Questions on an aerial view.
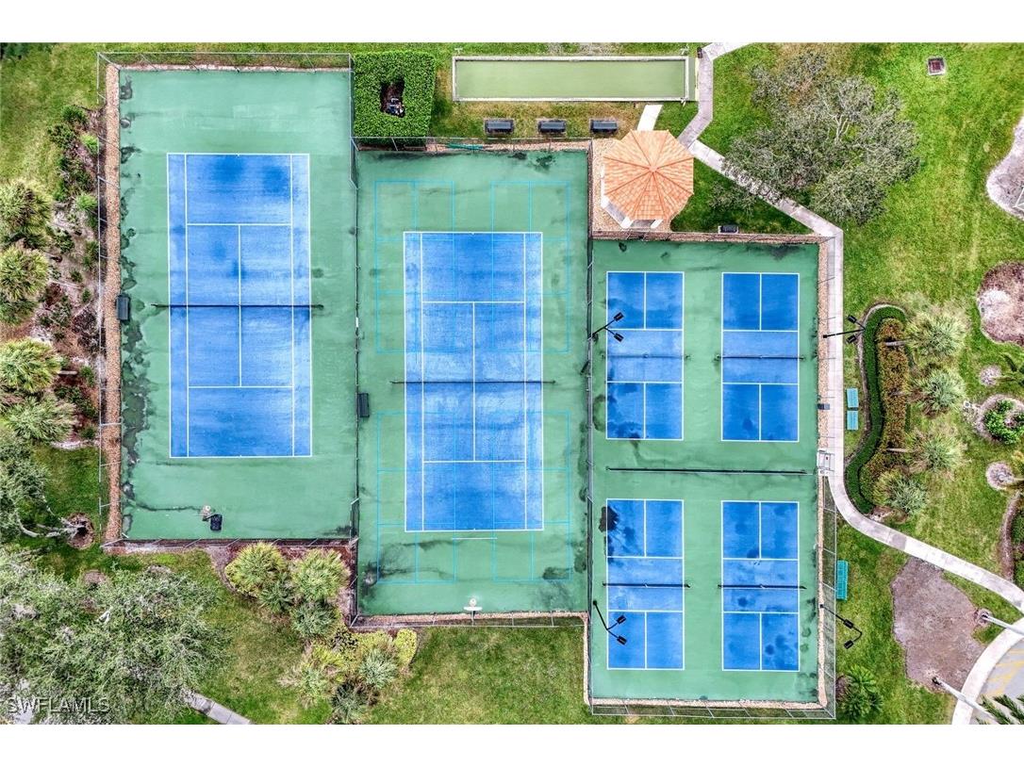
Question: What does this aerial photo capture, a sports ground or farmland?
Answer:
sports ground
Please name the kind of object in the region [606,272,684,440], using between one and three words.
sports court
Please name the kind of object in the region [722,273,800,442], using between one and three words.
sports court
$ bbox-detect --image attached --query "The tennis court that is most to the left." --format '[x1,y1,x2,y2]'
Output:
[119,70,359,540]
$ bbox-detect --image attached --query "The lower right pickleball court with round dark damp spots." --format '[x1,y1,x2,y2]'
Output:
[722,501,800,672]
